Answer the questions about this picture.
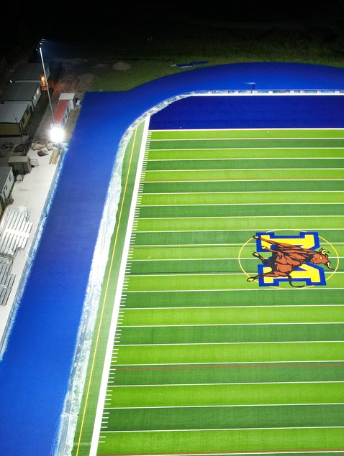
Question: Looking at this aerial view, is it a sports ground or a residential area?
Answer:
sports ground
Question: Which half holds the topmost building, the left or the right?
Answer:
left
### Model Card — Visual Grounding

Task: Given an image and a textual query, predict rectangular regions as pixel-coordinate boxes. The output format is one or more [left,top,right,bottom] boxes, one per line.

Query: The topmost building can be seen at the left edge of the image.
[11,62,51,91]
